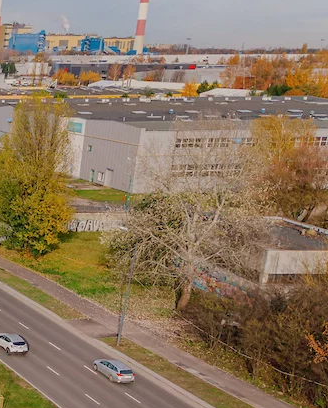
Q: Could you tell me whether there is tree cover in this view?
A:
Yes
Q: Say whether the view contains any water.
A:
No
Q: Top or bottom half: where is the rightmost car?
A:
bottom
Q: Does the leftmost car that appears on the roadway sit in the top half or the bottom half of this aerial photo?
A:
bottom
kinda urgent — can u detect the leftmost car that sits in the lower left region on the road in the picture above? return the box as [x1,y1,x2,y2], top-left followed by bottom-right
[0,333,33,355]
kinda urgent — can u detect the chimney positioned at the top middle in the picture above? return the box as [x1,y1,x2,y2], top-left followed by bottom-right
[134,0,148,53]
